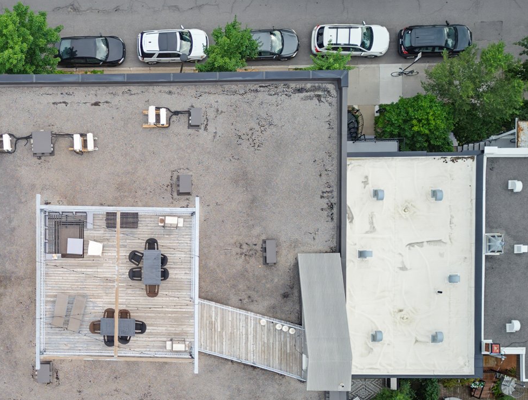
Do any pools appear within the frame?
No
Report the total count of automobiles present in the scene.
5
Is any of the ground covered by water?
No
